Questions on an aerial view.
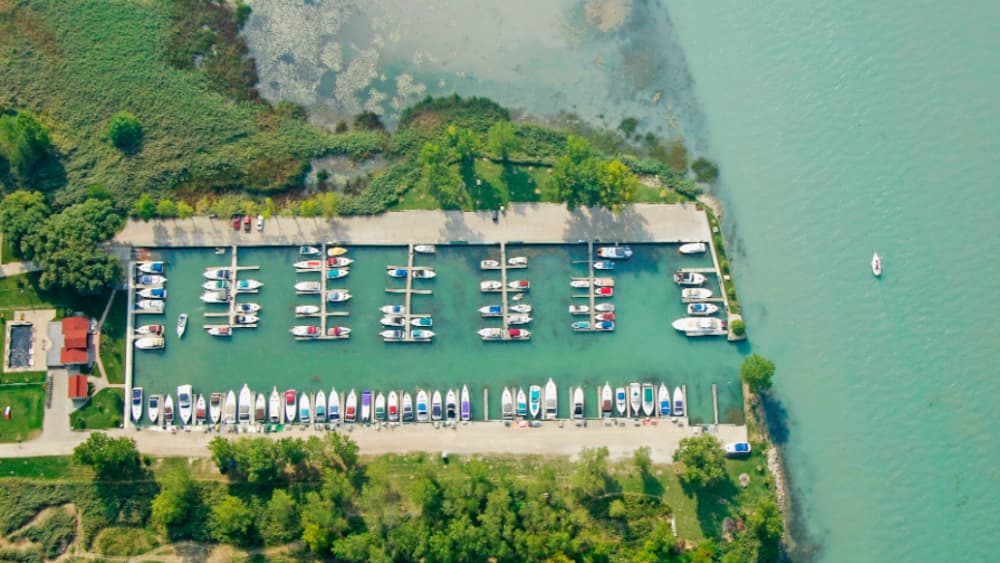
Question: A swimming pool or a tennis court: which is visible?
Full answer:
The one in the frame is a swimming pool.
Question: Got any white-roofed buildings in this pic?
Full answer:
No, no white-roofed building can be seen from above.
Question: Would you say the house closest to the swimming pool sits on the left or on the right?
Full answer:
You can find the house closest to the swimming pool on the left side of the picture.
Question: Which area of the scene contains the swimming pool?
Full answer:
The swimming pool is located in the left region of the scene.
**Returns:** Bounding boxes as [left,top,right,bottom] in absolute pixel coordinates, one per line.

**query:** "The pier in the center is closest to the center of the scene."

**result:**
[479,245,530,342]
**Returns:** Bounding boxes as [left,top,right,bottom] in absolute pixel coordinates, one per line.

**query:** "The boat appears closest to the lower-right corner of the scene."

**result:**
[727,441,751,454]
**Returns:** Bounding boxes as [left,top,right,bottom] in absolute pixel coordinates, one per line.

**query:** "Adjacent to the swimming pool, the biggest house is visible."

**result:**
[48,317,96,370]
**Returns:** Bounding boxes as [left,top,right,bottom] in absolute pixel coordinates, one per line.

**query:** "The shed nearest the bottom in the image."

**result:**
[68,375,89,399]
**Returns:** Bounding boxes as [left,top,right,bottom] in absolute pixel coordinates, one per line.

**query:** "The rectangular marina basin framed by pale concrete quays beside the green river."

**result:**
[113,202,746,436]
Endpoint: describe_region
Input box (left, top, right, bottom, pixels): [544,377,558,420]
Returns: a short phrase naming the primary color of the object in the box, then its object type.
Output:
white boat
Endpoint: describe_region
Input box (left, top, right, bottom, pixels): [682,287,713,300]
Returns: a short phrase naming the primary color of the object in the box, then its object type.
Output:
white boat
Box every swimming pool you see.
[3,310,56,373]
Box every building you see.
[48,317,96,370]
[68,375,89,399]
